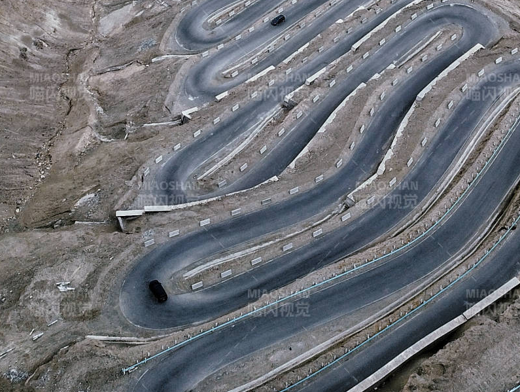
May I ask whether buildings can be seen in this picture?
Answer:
No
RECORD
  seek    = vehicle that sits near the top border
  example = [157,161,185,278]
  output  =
[270,14,286,27]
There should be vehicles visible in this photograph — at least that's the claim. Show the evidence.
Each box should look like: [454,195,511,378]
[150,277,166,304]
[270,14,286,27]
